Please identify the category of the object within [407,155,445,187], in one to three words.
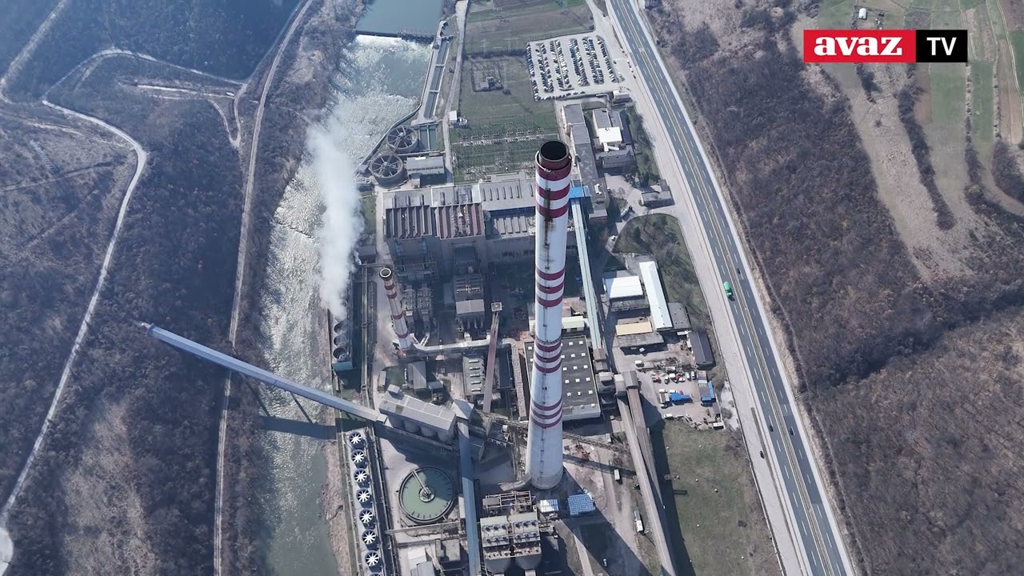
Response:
building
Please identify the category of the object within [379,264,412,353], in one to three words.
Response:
chimney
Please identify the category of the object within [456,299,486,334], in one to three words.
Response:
house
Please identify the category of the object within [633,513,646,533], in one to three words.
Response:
vehicle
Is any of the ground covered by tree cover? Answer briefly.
Yes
